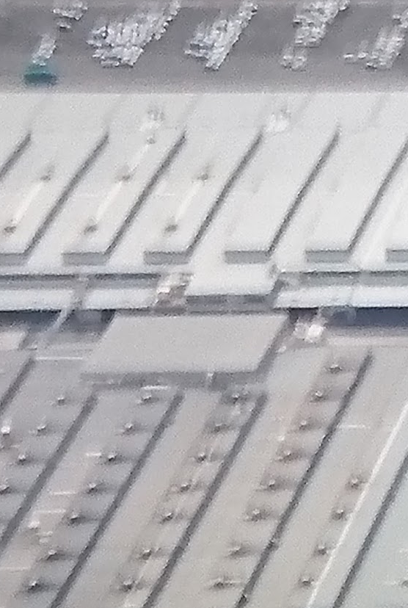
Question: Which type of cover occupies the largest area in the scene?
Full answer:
For the most part, this view shows buildings.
